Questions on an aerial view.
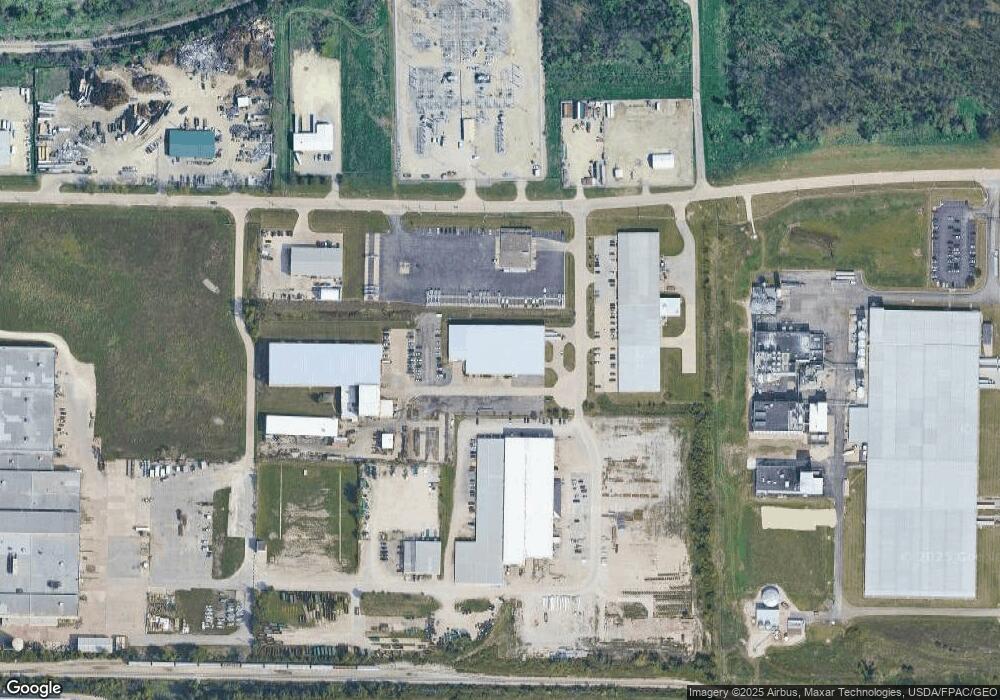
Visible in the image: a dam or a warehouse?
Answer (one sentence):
Looking from above, you can make out a warehouse.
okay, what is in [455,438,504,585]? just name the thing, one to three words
building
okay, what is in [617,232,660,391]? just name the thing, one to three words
building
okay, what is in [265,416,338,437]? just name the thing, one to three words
shed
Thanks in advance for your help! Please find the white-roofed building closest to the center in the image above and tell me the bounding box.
[448,324,544,375]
